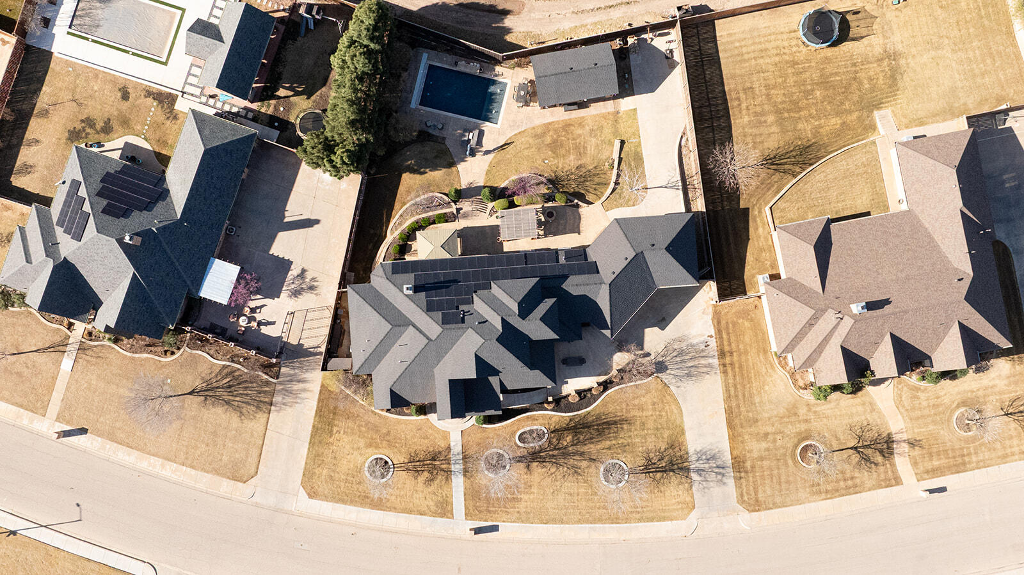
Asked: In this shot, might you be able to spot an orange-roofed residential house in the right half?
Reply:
No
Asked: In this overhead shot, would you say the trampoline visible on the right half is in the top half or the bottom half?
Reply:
top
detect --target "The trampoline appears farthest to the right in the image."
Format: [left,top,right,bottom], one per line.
[796,0,849,49]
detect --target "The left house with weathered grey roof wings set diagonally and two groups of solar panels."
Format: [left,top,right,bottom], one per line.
[0,107,258,339]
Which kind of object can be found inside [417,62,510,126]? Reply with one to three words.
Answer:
swimming pool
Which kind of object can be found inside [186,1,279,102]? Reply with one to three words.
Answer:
building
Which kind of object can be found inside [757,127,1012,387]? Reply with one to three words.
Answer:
house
